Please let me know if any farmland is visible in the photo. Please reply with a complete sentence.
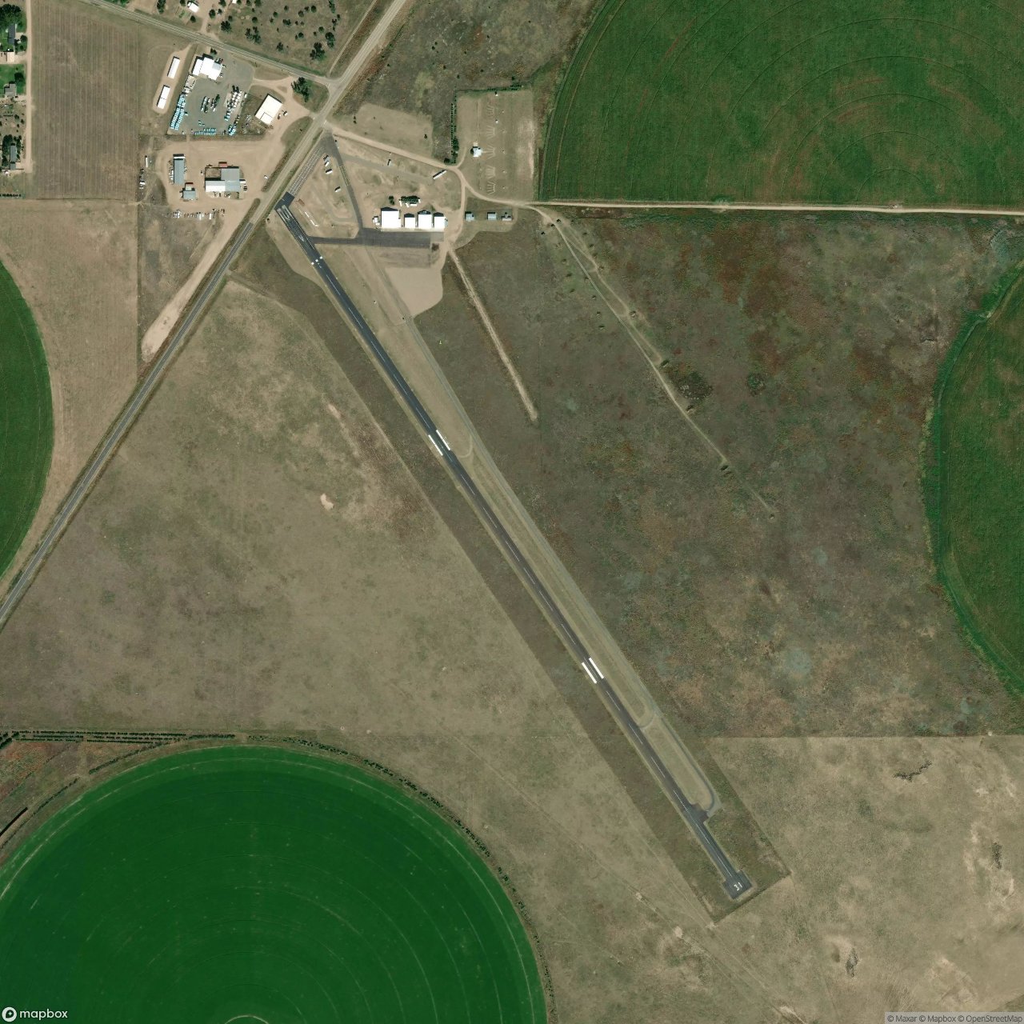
Yes, some farmland is visible.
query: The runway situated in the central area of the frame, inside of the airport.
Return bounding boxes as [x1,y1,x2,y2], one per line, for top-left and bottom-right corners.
[275,192,752,899]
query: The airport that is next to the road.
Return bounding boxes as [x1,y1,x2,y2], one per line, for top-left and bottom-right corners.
[275,129,752,899]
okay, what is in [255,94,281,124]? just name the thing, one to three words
building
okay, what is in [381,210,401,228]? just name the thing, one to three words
hangar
